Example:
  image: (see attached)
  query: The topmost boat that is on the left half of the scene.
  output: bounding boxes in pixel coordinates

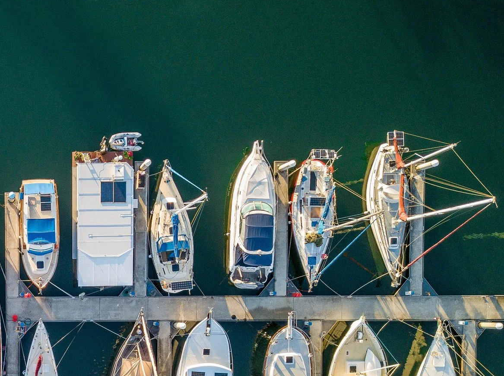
[109,132,142,152]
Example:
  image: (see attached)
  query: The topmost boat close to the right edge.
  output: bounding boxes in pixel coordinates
[367,131,501,288]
